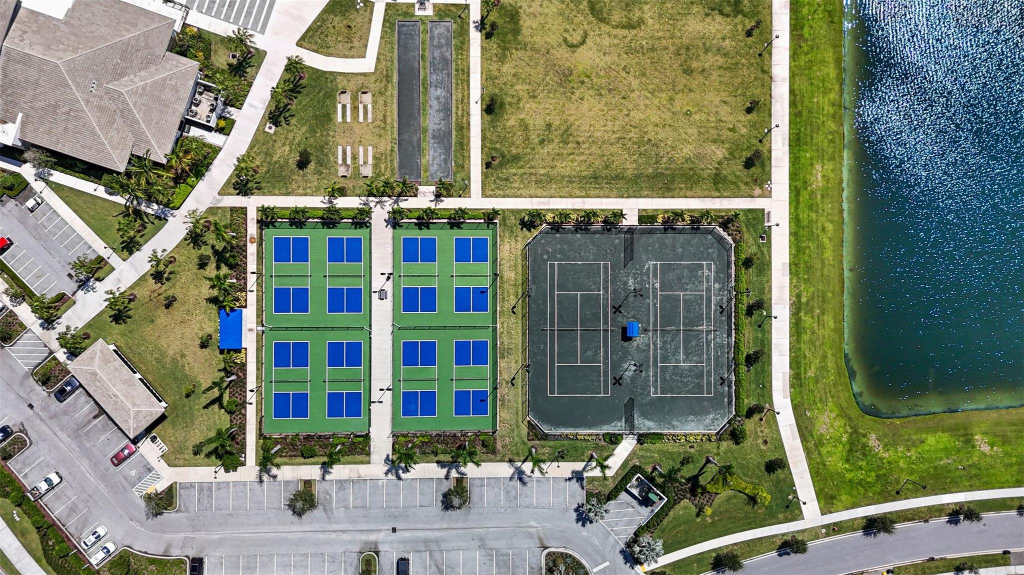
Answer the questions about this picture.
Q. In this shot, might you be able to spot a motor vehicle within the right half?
No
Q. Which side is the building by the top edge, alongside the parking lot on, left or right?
left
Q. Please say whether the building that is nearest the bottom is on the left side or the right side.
left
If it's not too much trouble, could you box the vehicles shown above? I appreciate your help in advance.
[0,236,11,252]
[78,527,106,552]
[20,196,42,211]
[0,425,11,442]
[24,472,60,502]
[187,558,202,575]
[50,378,77,403]
[395,558,409,575]
[86,542,117,568]
[107,444,135,469]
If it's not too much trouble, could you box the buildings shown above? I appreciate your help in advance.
[0,0,204,178]
[67,338,166,440]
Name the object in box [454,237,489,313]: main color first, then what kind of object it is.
blue sports court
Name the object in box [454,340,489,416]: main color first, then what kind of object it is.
blue sports court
